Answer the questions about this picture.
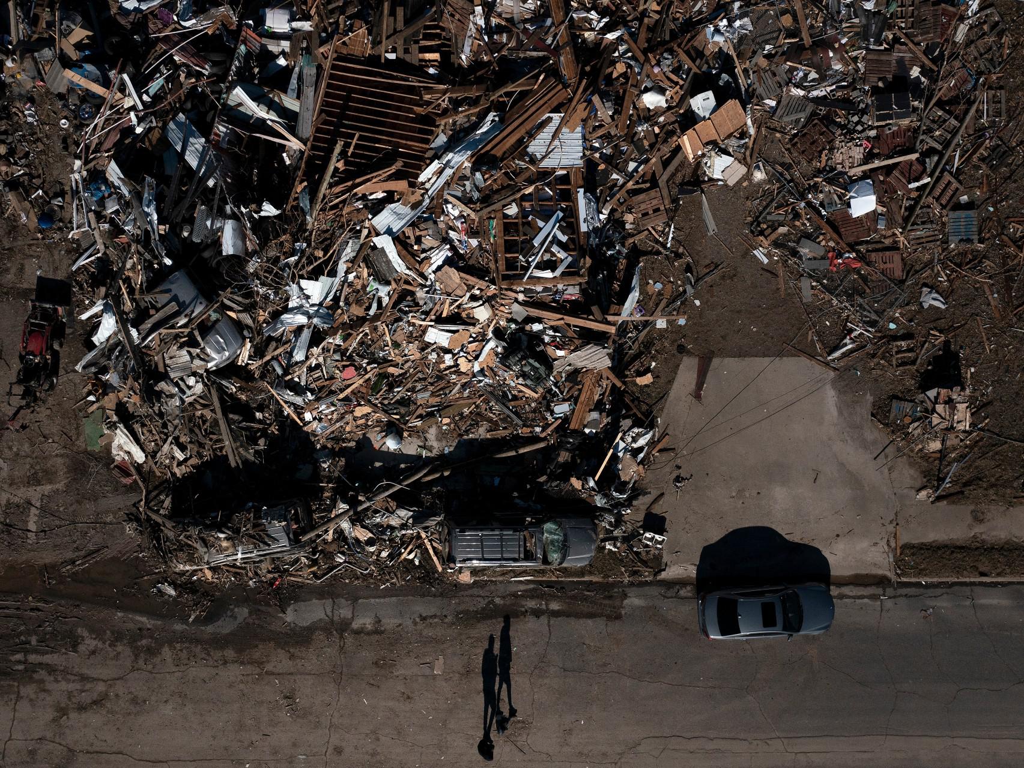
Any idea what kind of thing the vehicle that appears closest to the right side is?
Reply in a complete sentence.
In the photo, the vehicle that appears closest to the right side shows up as a car.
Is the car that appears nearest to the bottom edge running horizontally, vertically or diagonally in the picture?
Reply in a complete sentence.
The car that appears nearest to the bottom edge has been laid out horizontally relative to the frame.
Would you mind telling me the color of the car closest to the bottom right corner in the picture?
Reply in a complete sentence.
From above, the car closest to the bottom right corner appears black.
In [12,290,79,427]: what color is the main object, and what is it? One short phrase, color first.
black work vehicle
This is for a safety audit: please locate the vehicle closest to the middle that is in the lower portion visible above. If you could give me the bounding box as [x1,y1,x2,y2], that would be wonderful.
[450,511,596,570]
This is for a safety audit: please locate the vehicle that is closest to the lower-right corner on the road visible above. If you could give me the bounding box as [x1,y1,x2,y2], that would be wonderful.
[694,577,834,643]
